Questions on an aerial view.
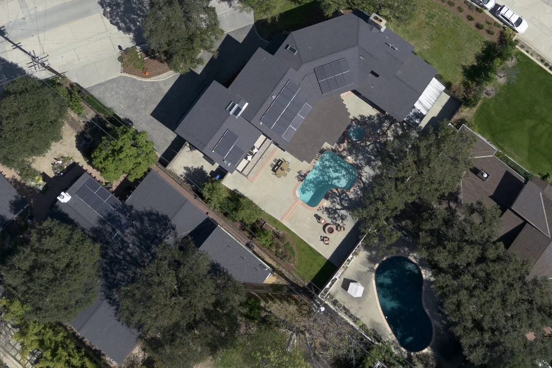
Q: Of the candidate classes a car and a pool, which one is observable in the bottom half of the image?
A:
pool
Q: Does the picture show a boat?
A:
No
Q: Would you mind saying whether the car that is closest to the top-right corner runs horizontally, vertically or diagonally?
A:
diagonally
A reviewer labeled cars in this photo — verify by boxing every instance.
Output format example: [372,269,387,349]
[494,2,530,34]
[472,0,498,12]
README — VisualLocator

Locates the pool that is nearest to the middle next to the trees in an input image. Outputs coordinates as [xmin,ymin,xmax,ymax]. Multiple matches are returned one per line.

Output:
[292,147,361,210]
